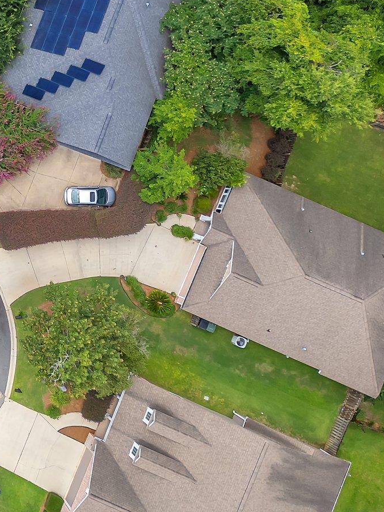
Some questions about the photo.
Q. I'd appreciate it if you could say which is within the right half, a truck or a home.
home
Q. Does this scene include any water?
No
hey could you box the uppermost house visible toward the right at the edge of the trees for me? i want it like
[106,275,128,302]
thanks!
[176,172,384,399]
